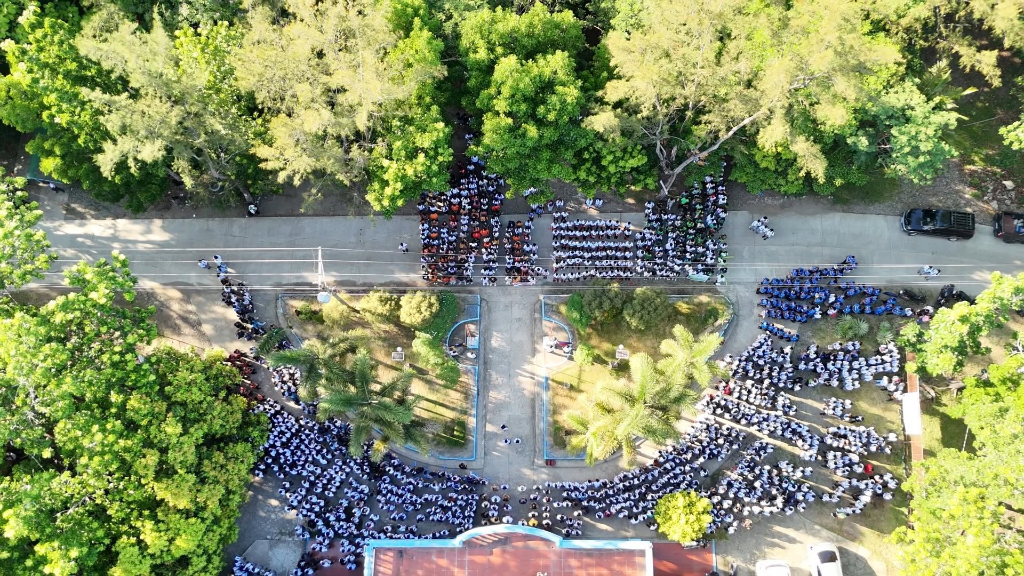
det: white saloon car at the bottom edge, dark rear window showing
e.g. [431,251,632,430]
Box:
[810,539,848,576]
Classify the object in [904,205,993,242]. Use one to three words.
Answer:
truck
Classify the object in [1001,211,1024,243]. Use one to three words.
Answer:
truck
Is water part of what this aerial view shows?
No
